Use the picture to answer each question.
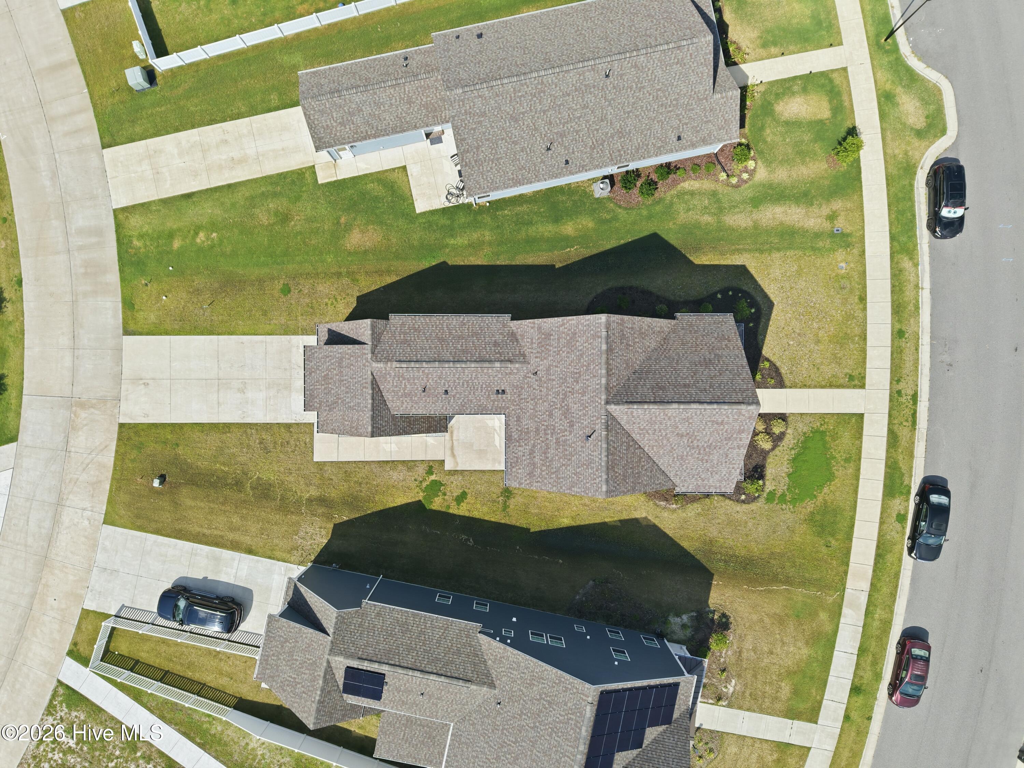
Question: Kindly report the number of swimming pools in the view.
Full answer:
The picture shows no swimming pools.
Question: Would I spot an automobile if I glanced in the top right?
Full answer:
Yes, an automobile can be seen in the top right.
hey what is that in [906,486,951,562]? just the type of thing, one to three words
car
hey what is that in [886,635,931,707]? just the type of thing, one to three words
car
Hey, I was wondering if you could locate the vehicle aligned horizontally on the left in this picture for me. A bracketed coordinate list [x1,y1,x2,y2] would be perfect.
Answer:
[157,586,240,635]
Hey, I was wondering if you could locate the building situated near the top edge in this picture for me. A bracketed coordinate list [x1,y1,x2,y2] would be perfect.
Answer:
[299,0,742,204]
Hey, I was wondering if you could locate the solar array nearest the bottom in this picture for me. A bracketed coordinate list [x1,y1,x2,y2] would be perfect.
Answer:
[585,686,672,768]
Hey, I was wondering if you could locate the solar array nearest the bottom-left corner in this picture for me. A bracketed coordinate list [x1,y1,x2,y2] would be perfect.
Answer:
[343,669,383,699]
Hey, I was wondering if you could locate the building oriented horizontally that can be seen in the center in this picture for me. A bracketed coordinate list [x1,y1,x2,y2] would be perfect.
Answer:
[303,313,759,498]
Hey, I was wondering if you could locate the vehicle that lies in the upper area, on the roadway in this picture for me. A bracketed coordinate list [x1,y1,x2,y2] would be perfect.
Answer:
[925,163,968,240]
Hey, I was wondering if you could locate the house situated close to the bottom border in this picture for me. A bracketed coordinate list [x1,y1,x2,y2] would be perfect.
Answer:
[253,564,709,768]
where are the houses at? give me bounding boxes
[303,313,759,498]
[299,0,742,204]
[253,564,709,768]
